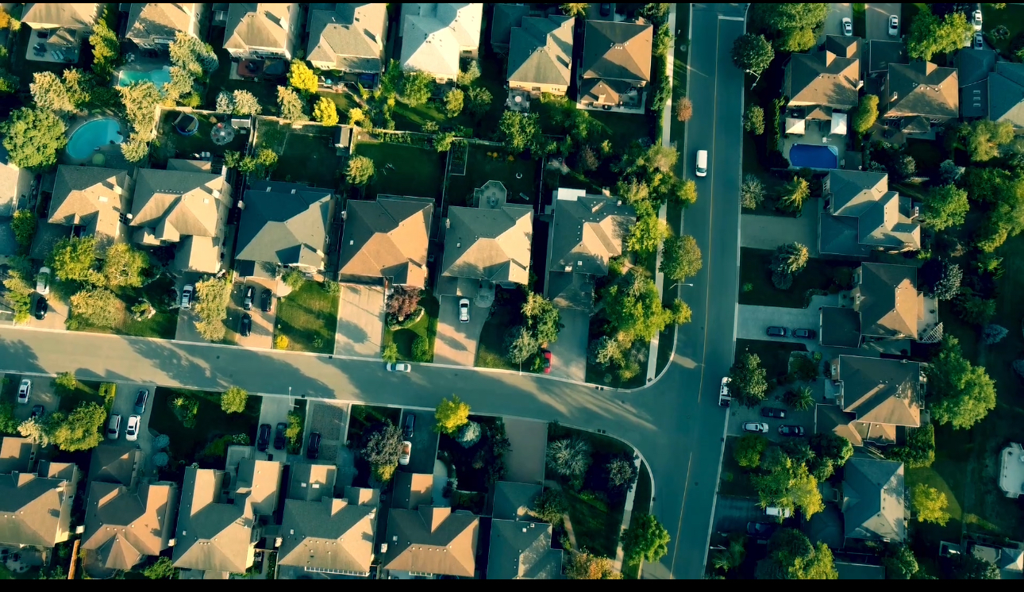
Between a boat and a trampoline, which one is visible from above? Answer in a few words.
trampoline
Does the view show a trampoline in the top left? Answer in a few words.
Yes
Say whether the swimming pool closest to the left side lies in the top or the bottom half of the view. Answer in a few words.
top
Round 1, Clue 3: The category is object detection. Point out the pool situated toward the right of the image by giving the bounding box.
[787,141,839,169]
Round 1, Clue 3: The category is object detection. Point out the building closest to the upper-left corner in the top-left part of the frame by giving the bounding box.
[20,0,105,46]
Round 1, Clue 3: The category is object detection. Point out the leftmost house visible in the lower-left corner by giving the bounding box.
[0,436,84,550]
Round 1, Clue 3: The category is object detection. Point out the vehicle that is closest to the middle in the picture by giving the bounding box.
[458,297,470,322]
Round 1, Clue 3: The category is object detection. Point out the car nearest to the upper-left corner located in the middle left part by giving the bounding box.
[38,267,50,292]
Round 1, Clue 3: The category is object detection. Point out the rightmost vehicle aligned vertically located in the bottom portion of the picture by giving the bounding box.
[719,377,731,408]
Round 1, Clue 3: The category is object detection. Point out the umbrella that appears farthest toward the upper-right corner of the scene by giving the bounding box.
[827,113,849,134]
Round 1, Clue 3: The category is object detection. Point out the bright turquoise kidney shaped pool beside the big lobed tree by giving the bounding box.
[64,116,124,161]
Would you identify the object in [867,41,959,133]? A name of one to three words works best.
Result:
house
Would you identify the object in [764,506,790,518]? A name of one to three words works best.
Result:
vehicle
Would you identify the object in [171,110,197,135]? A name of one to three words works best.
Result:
trampoline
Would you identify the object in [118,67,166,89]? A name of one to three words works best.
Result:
swimming pool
